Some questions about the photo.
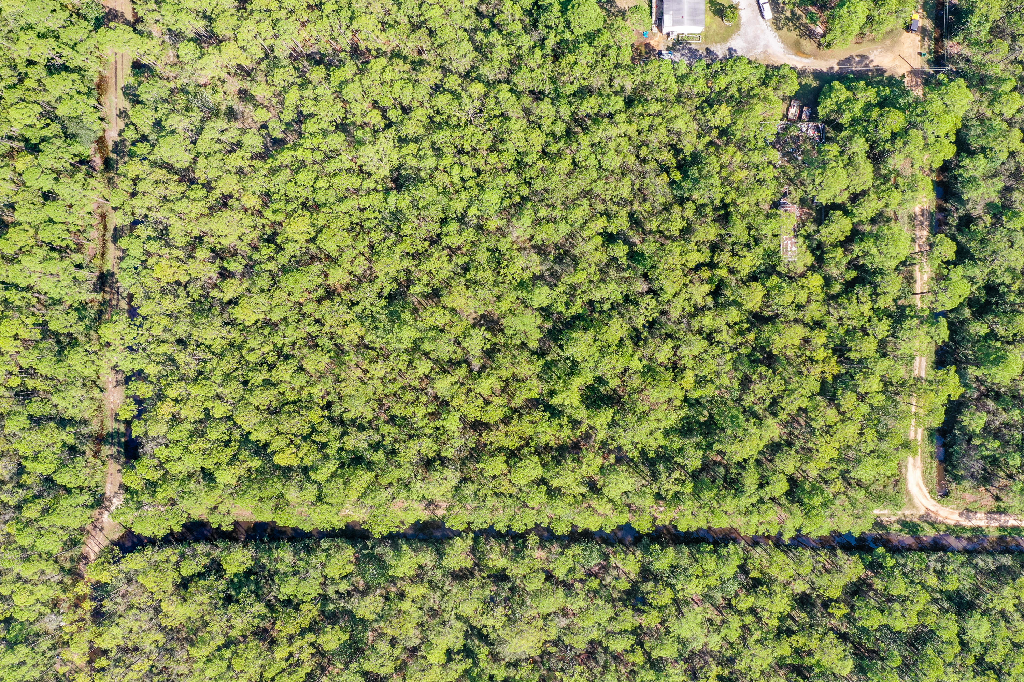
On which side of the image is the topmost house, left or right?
right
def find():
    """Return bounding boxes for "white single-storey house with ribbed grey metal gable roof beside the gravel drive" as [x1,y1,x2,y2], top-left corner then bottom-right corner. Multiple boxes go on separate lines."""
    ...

[661,0,705,31]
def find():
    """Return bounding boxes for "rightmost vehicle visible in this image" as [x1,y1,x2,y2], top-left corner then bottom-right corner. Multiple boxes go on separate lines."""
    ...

[907,13,921,34]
